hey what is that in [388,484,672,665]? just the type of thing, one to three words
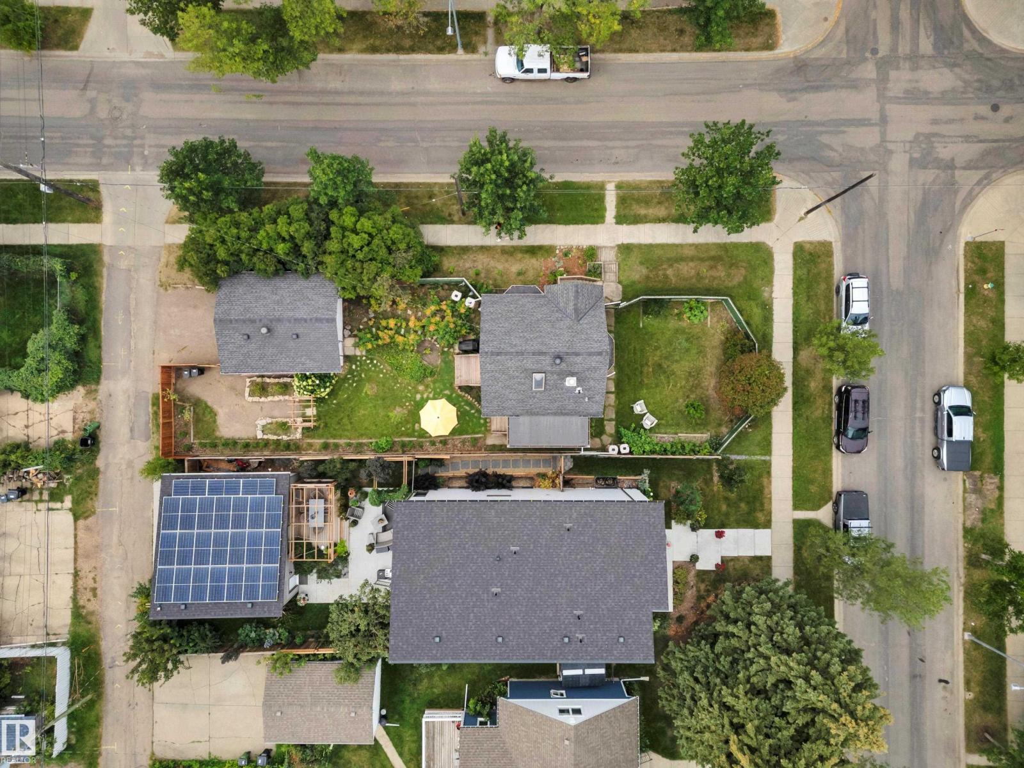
house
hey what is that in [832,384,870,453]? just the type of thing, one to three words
car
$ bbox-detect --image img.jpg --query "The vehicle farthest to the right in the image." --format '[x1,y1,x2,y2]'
[932,386,975,472]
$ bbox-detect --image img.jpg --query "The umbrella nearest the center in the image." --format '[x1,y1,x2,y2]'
[419,398,459,437]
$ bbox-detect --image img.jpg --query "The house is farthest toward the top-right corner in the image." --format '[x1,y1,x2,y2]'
[478,275,620,454]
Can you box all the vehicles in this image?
[832,384,870,453]
[833,267,871,334]
[832,489,874,574]
[932,386,975,472]
[496,44,589,83]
